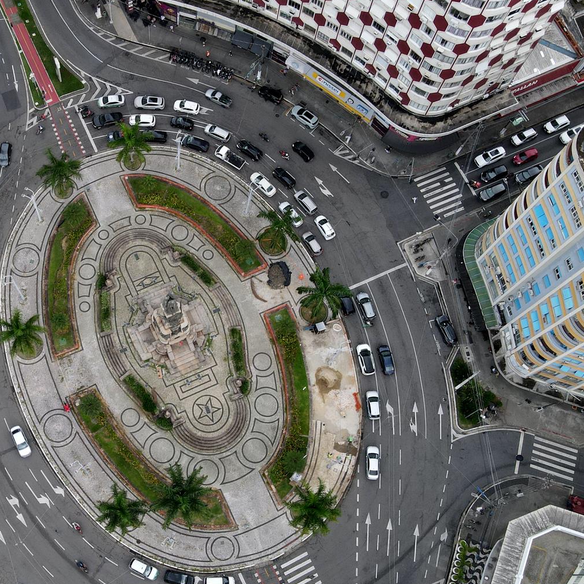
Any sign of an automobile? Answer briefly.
Yes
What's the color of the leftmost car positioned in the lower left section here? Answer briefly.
white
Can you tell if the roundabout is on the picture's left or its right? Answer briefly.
left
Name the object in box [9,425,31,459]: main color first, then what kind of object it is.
white car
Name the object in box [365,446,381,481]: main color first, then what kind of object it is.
white car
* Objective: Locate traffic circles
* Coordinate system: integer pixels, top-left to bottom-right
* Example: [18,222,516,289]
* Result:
[0,146,362,572]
